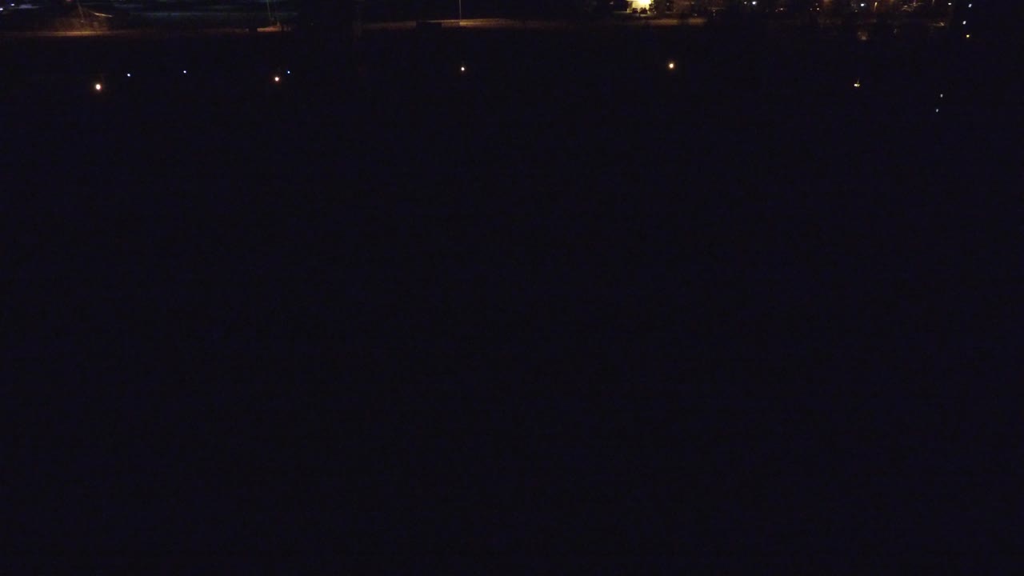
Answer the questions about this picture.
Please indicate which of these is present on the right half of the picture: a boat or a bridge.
boat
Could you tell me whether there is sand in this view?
No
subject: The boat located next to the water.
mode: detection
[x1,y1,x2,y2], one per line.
[929,4,977,63]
